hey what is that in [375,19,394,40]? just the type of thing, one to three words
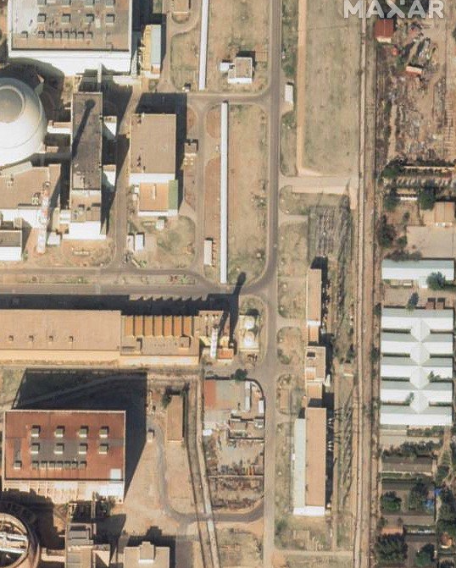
house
